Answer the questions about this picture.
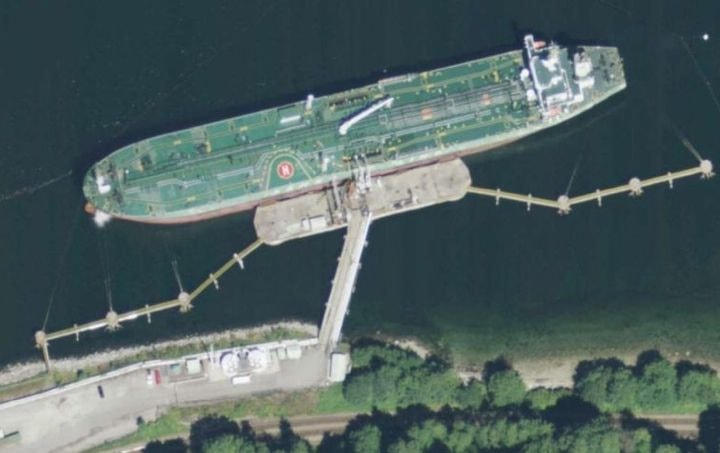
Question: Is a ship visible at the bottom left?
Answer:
No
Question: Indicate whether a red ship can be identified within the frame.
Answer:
No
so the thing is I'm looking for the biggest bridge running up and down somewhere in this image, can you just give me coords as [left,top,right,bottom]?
[319,210,371,343]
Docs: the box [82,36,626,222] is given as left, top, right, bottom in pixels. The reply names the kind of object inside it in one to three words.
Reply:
ship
